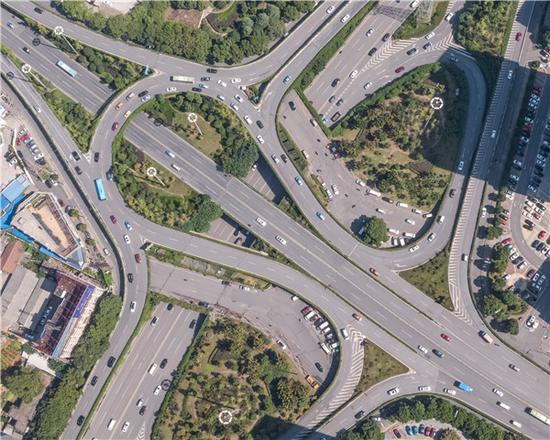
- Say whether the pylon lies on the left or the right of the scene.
right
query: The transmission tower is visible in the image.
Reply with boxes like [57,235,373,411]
[416,0,440,29]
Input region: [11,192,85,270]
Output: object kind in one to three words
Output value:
building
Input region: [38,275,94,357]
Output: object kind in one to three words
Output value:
building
